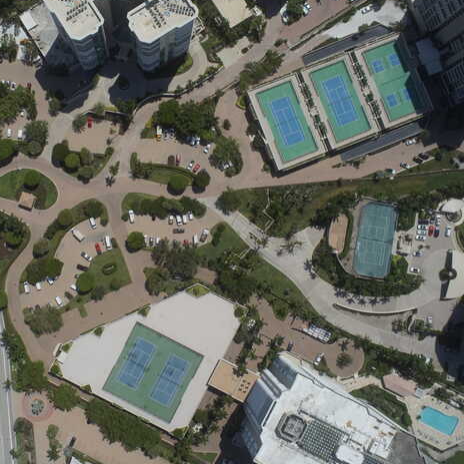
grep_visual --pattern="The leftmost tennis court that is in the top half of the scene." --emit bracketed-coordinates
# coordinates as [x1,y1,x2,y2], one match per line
[256,81,317,162]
